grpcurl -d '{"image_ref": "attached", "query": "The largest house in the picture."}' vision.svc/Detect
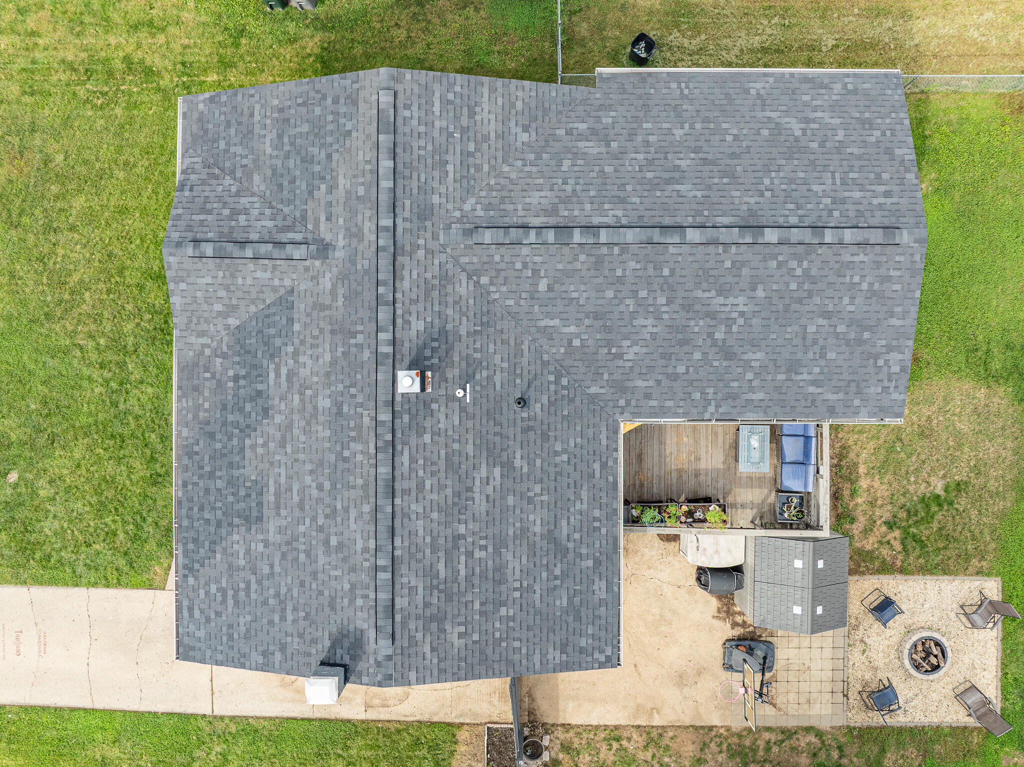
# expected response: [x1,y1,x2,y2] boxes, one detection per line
[162,67,928,704]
